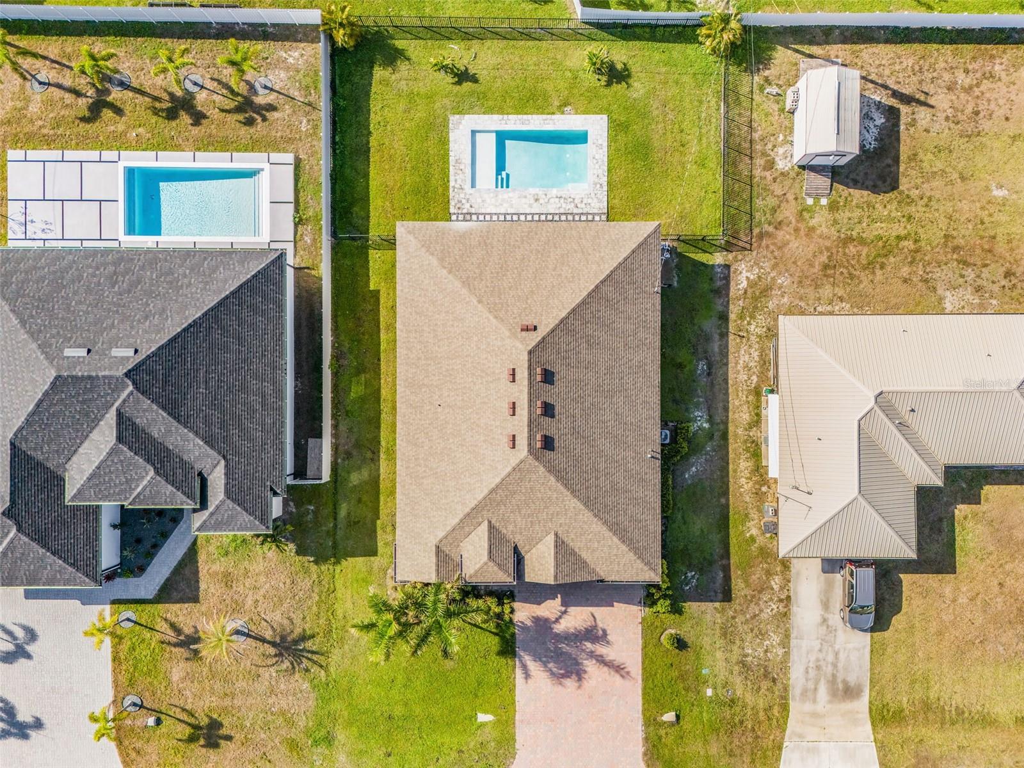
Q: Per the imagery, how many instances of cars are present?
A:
one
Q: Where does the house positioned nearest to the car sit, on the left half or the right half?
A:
right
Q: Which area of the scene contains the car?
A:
bottom right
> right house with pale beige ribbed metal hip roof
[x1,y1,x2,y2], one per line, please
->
[769,312,1024,560]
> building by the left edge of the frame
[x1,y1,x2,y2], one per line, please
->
[0,247,294,590]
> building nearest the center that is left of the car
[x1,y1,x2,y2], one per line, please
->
[394,220,662,588]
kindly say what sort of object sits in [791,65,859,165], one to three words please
shed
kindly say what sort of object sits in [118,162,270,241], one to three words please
swimming pool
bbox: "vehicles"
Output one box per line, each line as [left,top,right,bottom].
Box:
[839,558,881,632]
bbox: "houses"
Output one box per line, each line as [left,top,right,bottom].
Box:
[394,220,662,588]
[769,312,1024,560]
[0,247,294,590]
